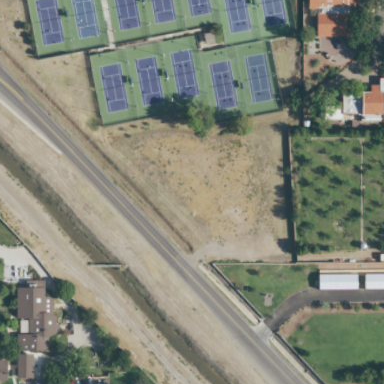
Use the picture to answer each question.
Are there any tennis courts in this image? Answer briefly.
Yes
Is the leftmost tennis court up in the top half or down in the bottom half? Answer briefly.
top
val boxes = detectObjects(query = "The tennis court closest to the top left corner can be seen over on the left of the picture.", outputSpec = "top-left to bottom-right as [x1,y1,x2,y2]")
[27,0,74,59]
